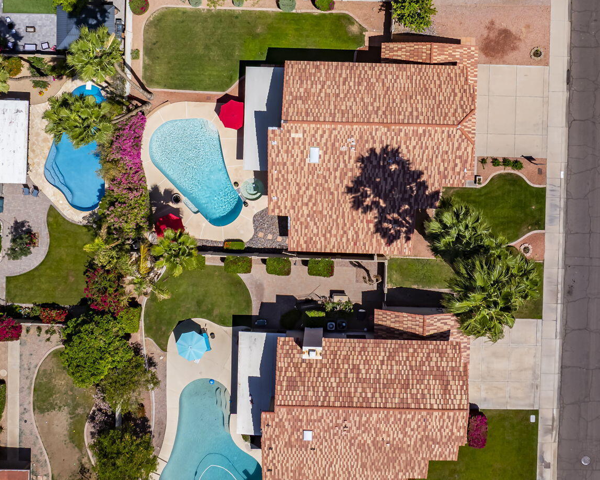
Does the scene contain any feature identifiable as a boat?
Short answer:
No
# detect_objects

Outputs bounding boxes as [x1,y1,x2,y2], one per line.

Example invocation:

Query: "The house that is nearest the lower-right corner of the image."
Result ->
[236,309,474,480]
